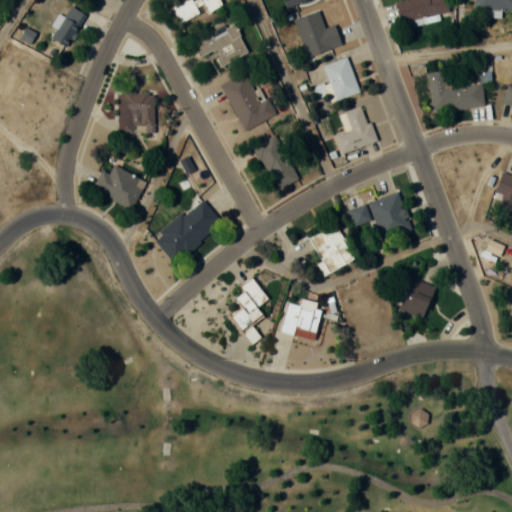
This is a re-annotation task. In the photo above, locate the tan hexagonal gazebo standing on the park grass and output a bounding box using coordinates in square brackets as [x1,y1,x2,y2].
[410,408,430,430]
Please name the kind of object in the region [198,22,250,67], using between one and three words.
house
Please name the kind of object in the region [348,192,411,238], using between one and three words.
house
